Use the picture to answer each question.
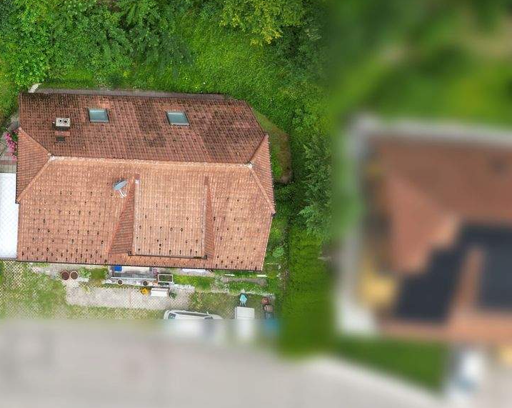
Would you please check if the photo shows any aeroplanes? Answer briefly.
No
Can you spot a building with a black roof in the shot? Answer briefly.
No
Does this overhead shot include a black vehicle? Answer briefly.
No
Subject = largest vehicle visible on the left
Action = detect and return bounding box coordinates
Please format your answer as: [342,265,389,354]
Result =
[163,310,226,347]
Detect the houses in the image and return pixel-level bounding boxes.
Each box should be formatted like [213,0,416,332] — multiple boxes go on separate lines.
[357,133,512,350]
[13,90,277,272]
